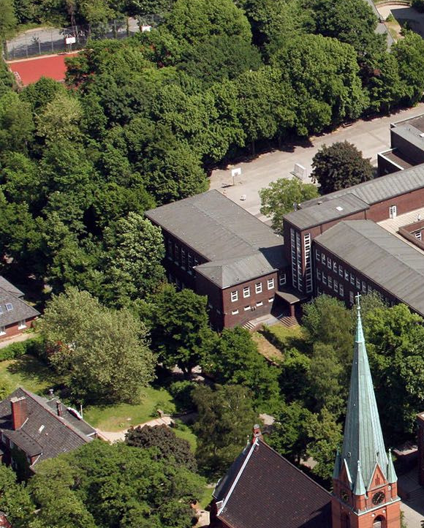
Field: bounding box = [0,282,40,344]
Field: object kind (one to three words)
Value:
house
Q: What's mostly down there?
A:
trees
